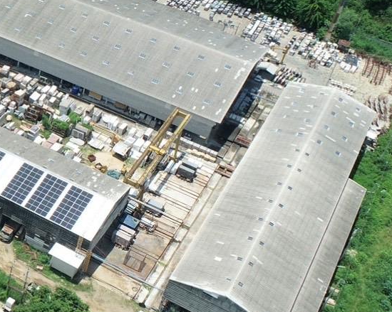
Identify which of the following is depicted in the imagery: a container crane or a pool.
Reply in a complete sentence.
Of the two, only a container crane appears.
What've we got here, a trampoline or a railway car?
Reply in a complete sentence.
The image shows a railway car.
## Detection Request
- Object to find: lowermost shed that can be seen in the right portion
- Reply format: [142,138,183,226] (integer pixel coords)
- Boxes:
[160,83,375,312]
